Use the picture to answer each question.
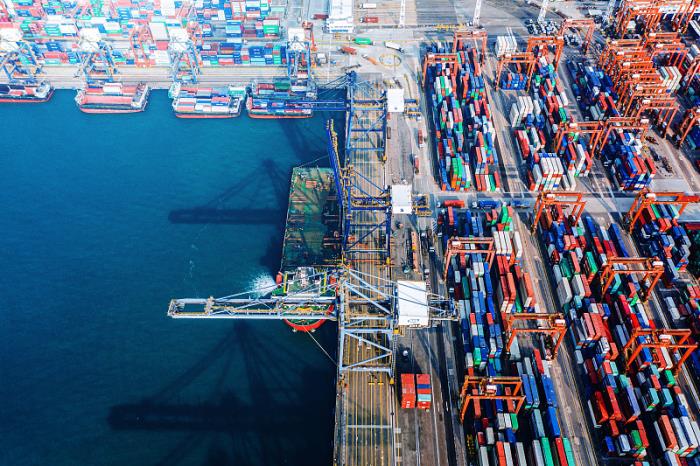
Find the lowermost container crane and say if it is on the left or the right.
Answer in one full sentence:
You can find the lowermost container crane on the right side of the picture.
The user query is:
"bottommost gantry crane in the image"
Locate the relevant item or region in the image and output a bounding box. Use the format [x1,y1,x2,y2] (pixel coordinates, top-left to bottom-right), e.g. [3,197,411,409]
[459,375,531,424]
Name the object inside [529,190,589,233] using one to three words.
container crane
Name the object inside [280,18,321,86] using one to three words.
container crane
